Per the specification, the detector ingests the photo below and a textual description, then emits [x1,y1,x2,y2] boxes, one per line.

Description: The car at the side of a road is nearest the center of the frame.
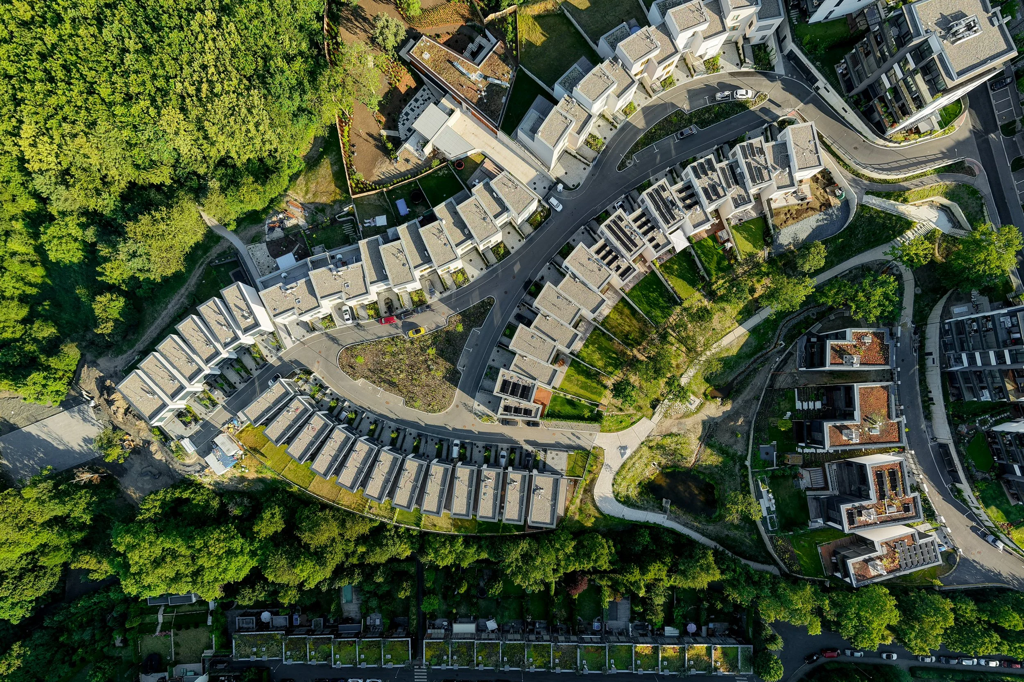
[513,312,532,326]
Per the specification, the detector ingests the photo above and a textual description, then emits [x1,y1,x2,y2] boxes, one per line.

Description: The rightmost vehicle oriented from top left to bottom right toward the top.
[614,198,628,214]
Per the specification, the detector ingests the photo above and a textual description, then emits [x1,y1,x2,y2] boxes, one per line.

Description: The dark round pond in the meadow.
[649,471,717,517]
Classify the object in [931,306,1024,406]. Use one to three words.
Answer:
building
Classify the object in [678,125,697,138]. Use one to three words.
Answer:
vehicle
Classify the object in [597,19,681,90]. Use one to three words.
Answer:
house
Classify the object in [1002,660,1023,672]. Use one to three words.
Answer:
vehicle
